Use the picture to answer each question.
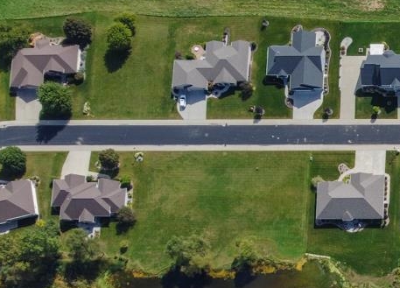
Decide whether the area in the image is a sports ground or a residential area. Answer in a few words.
residential area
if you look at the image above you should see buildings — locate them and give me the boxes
[11,39,82,89]
[267,26,325,90]
[173,41,254,90]
[0,168,42,219]
[316,172,385,221]
[51,173,131,222]
[357,50,400,90]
